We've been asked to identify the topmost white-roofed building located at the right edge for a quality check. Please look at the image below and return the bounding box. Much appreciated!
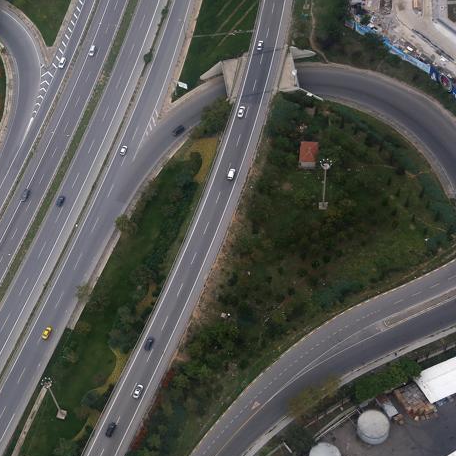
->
[414,358,456,409]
